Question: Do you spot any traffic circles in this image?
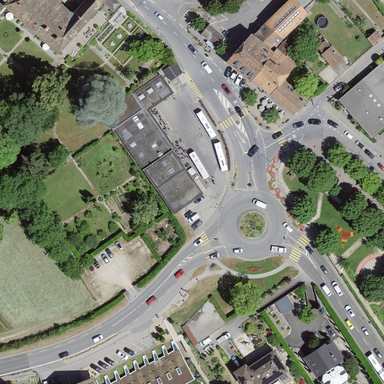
Yes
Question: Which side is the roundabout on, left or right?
right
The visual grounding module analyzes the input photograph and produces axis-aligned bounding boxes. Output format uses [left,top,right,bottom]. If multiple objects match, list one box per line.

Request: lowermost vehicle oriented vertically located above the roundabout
[214,142,226,171]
